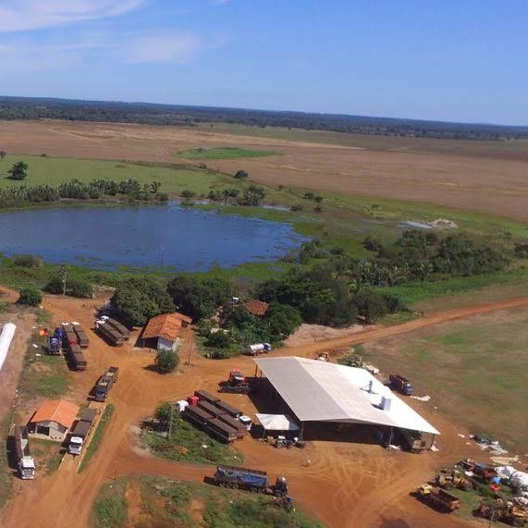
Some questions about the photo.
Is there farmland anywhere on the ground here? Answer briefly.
Yes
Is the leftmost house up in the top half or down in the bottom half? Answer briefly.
bottom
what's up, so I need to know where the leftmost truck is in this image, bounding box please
[8,425,35,478]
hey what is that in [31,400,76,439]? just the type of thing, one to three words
house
